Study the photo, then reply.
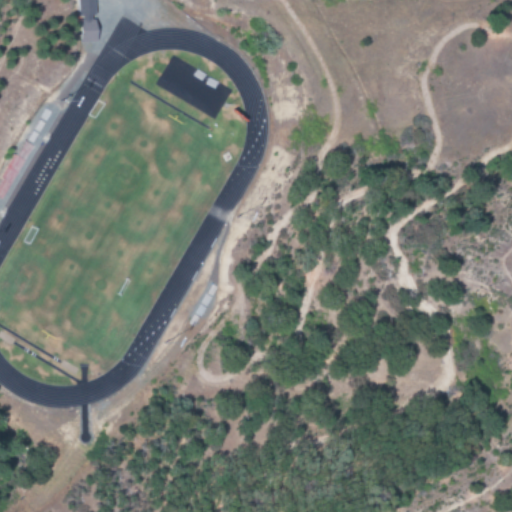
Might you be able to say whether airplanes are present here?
No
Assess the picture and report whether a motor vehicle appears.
No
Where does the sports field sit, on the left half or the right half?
left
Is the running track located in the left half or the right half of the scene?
left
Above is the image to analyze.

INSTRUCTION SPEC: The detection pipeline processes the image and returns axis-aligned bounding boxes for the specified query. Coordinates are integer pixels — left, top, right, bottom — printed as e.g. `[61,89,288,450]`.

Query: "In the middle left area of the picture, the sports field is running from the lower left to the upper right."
[0,50,247,385]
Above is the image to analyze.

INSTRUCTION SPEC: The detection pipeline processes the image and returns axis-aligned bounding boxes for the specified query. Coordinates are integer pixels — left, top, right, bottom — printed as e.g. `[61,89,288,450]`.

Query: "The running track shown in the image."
[0,17,269,407]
